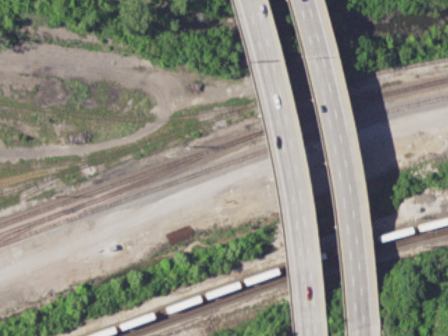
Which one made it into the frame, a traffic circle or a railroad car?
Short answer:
railroad car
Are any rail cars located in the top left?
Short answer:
No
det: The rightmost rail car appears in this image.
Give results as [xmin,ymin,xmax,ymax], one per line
[417,218,448,232]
